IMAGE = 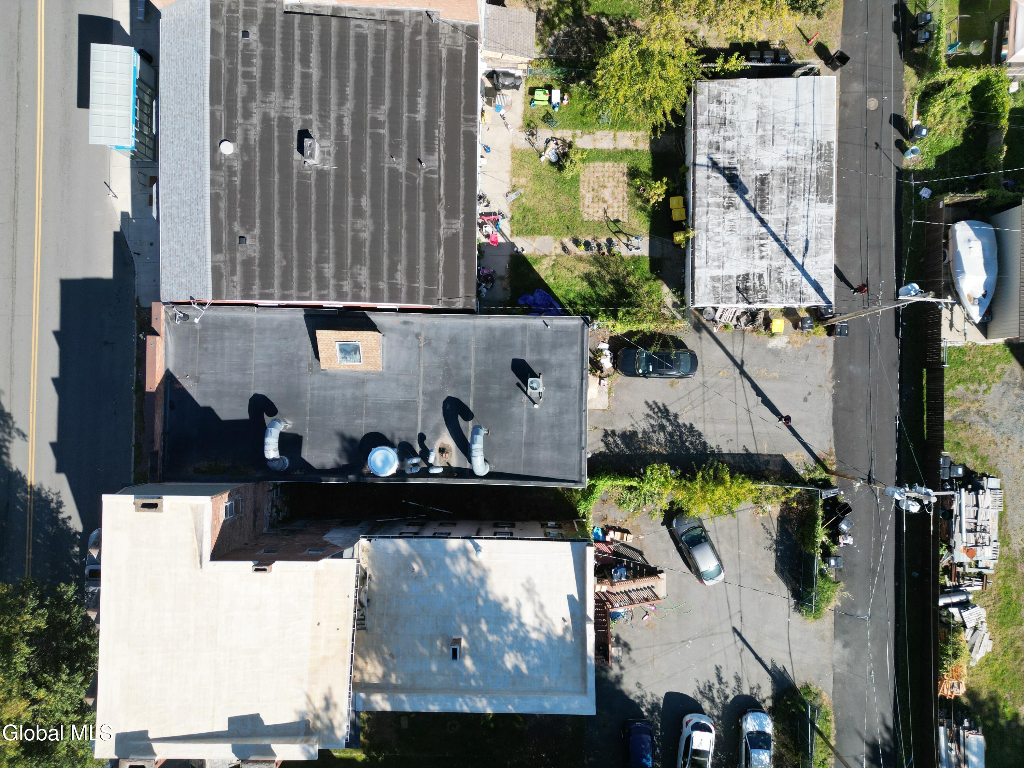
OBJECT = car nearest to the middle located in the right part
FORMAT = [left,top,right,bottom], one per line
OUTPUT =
[616,345,699,383]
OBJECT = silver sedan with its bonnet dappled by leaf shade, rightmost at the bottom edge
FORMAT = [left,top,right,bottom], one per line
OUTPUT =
[736,704,775,768]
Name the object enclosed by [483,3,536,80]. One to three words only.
shed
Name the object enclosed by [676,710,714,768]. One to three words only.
car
